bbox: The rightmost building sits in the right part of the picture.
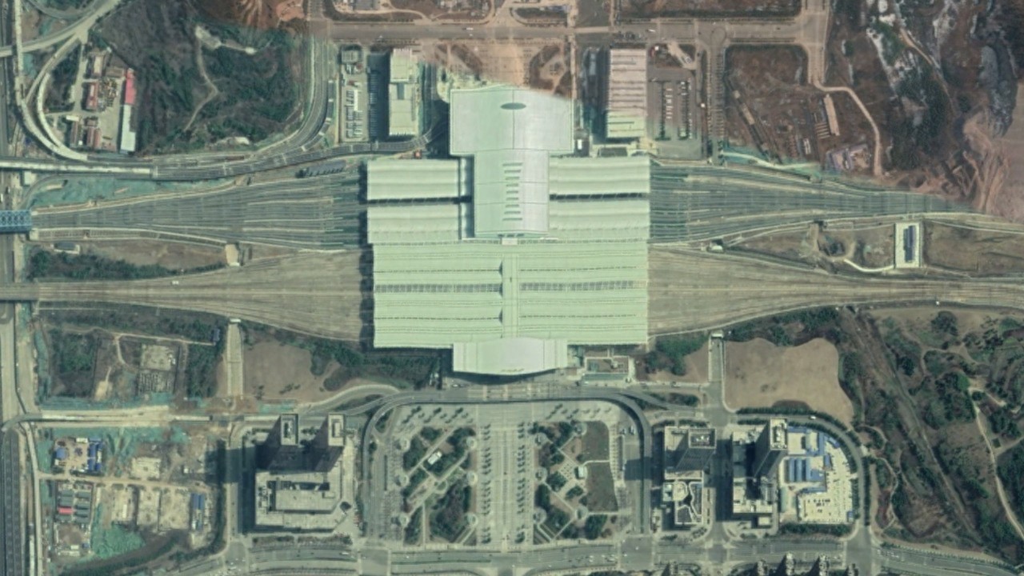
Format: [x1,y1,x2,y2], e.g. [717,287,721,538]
[903,226,916,262]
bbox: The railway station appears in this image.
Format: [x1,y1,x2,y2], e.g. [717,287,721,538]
[367,85,650,383]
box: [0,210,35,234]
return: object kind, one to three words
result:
bridge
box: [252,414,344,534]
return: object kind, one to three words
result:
building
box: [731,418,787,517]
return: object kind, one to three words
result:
building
